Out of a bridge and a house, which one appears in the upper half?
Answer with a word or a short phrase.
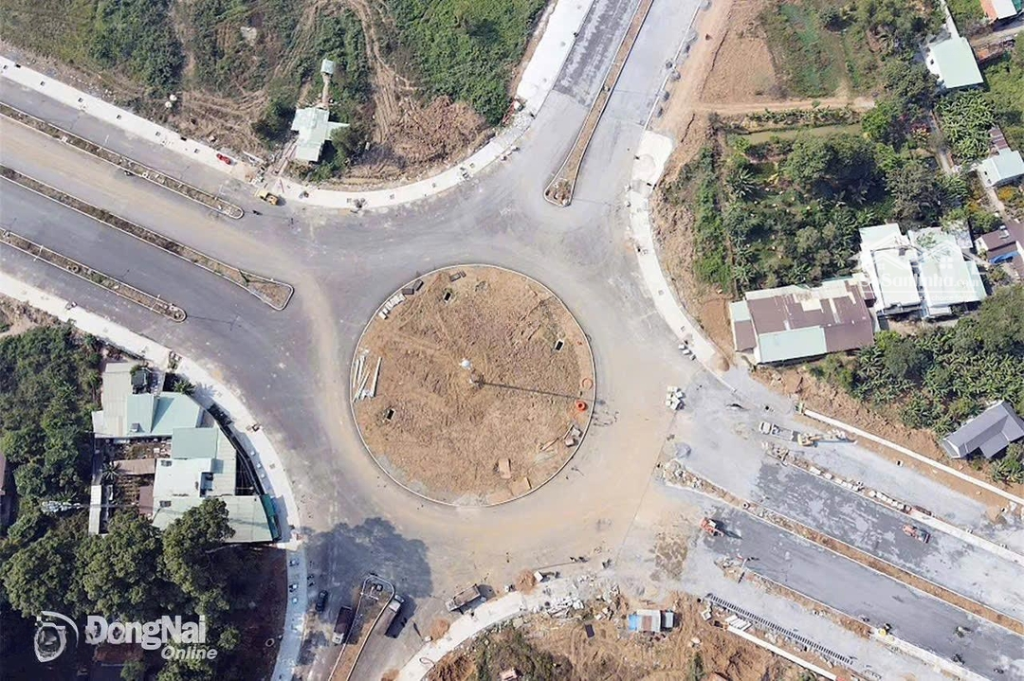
house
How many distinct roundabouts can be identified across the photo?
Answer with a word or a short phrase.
1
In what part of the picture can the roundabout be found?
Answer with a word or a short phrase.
center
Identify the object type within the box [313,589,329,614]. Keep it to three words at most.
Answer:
car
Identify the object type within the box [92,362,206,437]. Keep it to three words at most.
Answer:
house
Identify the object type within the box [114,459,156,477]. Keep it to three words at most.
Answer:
shed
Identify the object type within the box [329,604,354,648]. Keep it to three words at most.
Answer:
truck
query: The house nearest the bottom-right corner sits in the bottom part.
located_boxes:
[940,403,1024,459]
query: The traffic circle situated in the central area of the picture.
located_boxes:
[283,201,665,581]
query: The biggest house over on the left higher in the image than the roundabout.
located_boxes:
[291,108,349,165]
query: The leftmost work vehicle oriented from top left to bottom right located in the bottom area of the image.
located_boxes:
[697,514,725,539]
